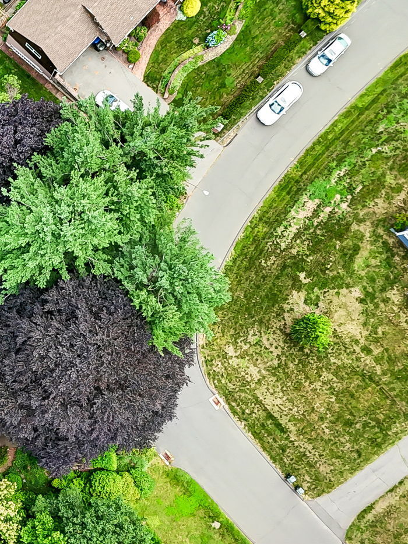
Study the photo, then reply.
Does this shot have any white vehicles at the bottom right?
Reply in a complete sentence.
No, looking at the bottom right, there is no white vehicle.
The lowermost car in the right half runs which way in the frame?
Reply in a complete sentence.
The lowermost car in the right half is oriented diagonally.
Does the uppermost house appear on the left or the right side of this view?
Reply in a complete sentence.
The uppermost house sits on the left side.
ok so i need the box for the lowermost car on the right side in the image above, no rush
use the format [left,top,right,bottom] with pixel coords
[254,77,307,129]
